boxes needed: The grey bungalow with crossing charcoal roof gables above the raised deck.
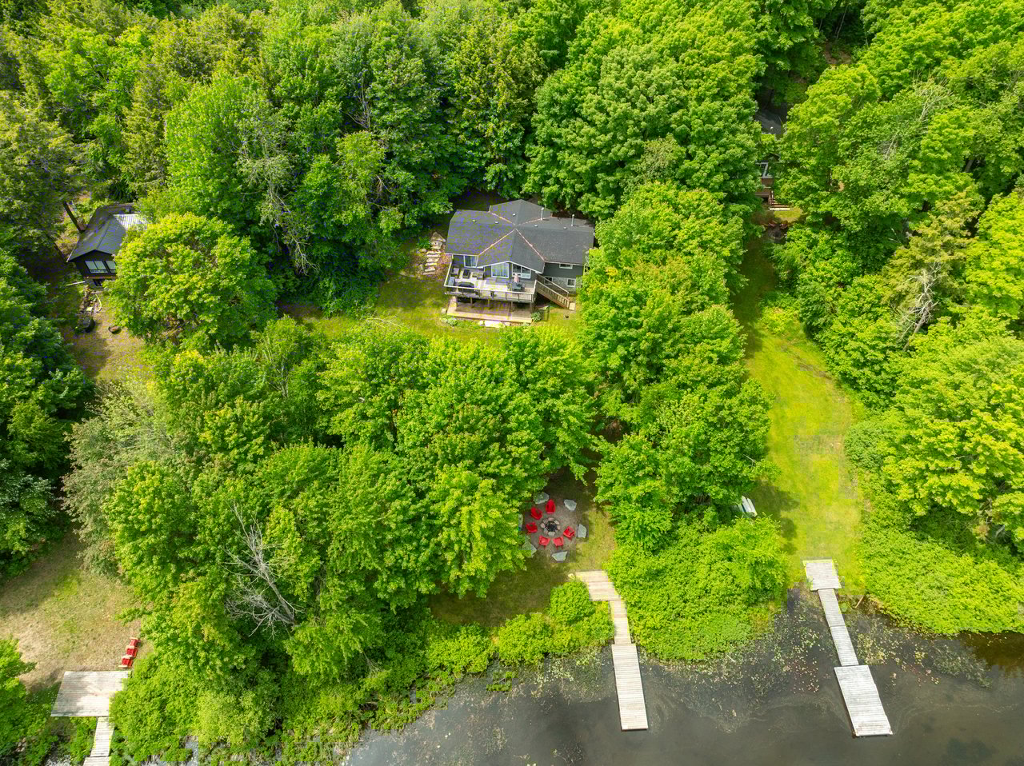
[445,197,596,304]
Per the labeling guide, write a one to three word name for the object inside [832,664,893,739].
pier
